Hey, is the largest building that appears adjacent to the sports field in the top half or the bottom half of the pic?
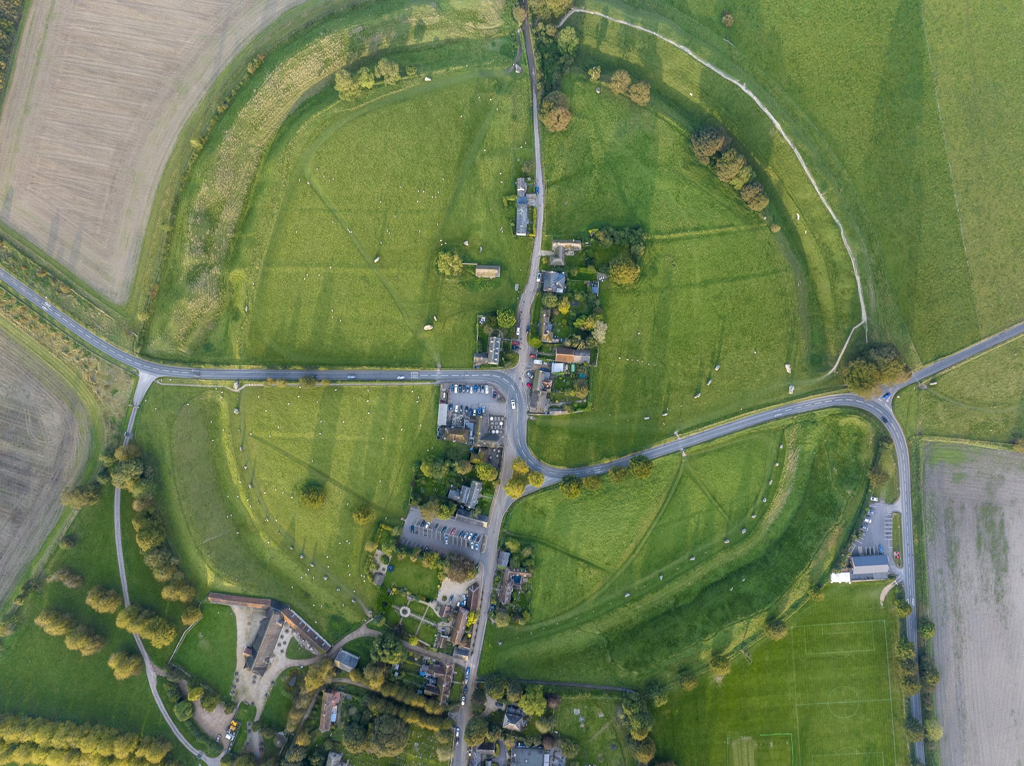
bottom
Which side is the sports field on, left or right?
right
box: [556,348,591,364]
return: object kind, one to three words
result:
barn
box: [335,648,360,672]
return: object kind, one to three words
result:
shed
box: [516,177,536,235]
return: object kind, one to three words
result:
house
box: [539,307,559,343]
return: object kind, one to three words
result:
house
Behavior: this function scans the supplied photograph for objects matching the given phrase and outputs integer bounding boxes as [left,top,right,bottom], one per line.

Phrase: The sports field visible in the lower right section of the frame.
[645,582,909,766]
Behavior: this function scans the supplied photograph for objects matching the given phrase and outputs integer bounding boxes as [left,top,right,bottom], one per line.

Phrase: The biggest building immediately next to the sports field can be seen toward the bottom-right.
[841,553,892,580]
